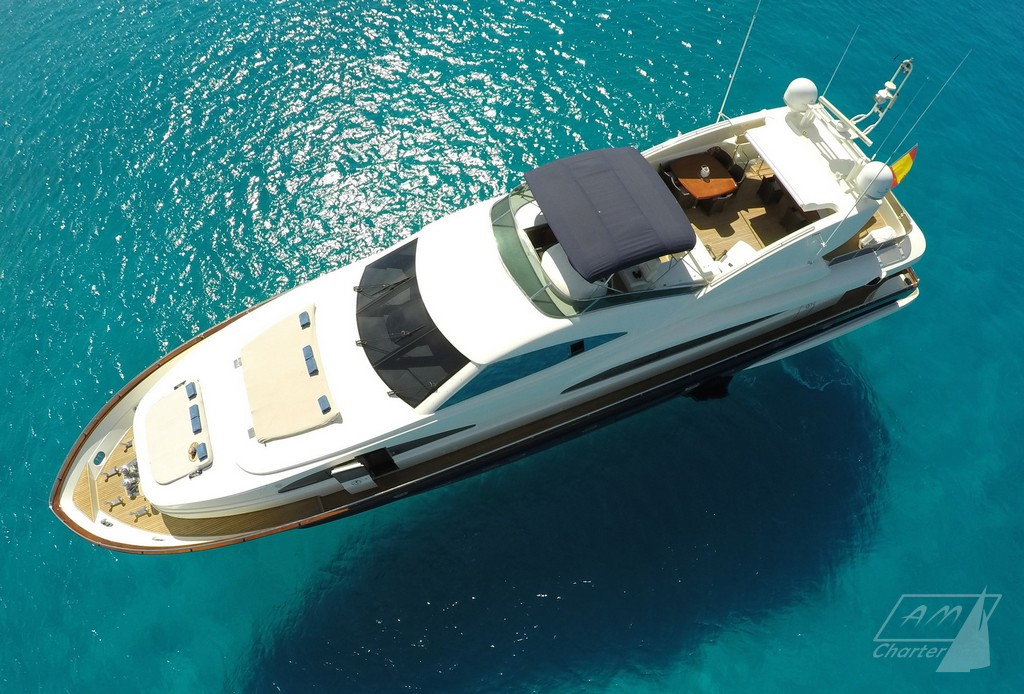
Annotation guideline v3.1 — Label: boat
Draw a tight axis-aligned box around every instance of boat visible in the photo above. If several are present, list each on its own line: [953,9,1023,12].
[48,0,970,557]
